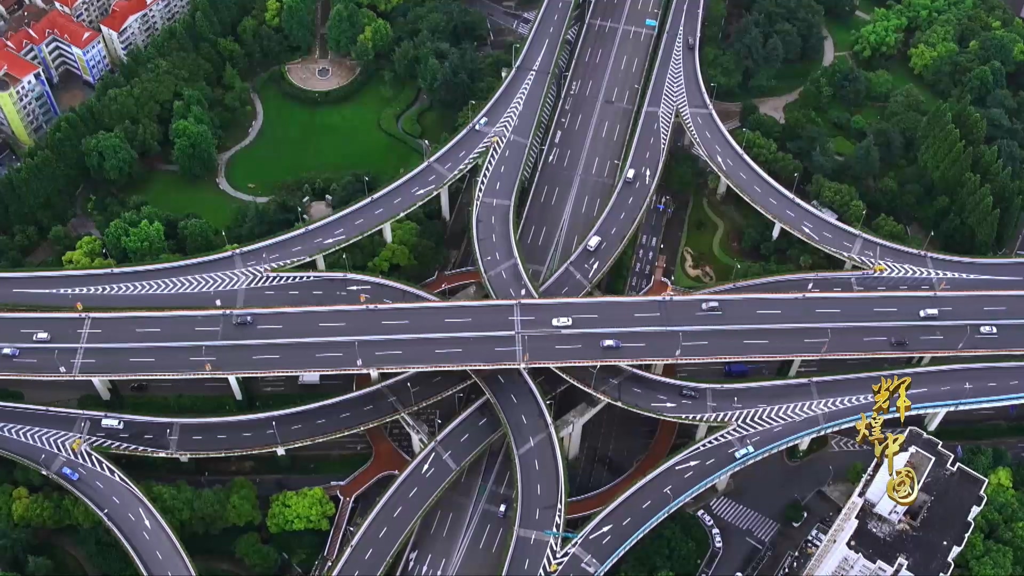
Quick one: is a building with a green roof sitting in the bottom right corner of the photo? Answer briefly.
No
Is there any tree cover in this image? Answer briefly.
Yes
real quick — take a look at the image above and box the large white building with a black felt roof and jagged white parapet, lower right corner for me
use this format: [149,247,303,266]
[809,425,990,576]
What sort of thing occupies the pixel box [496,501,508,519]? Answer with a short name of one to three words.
vehicle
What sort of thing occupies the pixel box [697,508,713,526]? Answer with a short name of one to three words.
car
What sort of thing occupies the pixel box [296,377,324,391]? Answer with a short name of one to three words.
vehicle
